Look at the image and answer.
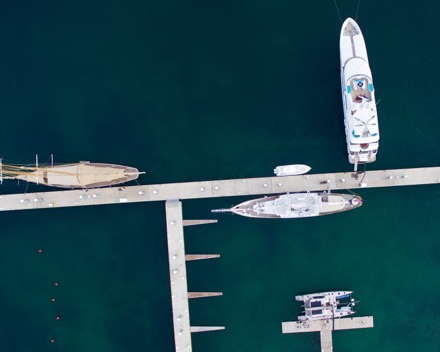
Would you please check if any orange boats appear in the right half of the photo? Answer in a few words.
No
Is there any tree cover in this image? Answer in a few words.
No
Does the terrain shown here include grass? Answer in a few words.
No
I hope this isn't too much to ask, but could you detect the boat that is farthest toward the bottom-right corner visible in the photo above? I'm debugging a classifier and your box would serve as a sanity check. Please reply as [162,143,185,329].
[296,291,361,331]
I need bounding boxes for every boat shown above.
[335,0,381,174]
[296,291,361,331]
[274,164,311,175]
[211,186,364,219]
[0,153,144,193]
